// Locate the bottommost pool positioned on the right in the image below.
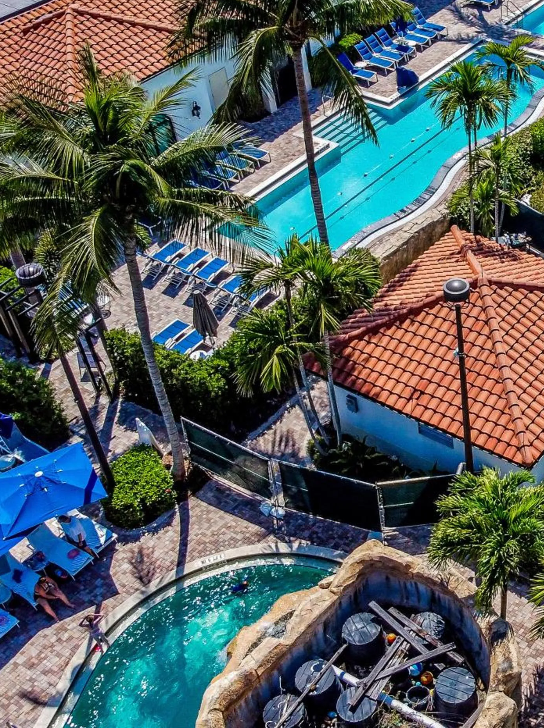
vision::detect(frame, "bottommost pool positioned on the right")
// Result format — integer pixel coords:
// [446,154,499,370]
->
[221,45,544,259]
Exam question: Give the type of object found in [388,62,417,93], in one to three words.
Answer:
umbrella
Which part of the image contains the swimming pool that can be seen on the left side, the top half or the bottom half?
bottom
